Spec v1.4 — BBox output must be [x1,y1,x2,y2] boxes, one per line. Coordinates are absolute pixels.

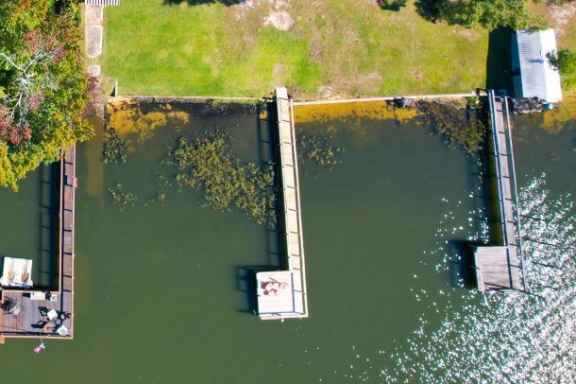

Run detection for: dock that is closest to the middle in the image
[253,87,310,319]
